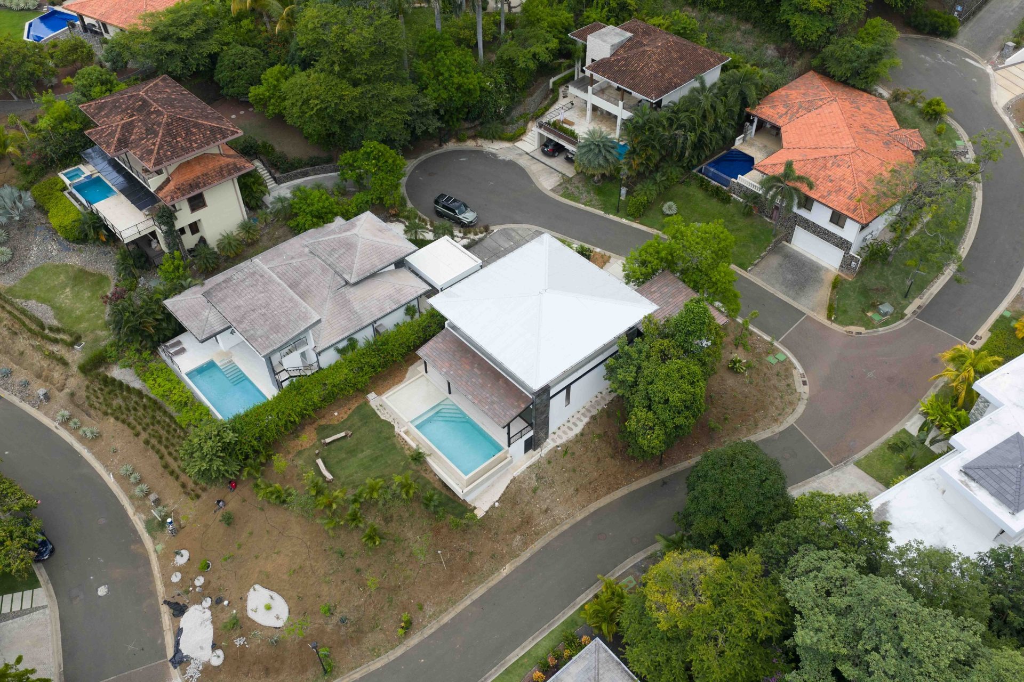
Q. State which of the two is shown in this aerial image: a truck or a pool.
pool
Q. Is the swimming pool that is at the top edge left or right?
left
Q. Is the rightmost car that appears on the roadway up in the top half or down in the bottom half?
top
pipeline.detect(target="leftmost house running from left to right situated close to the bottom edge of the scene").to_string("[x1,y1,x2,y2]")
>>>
[548,635,644,682]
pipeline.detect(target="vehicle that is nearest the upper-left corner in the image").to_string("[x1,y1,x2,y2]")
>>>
[433,188,481,224]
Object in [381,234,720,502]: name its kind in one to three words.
house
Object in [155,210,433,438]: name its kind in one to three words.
house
